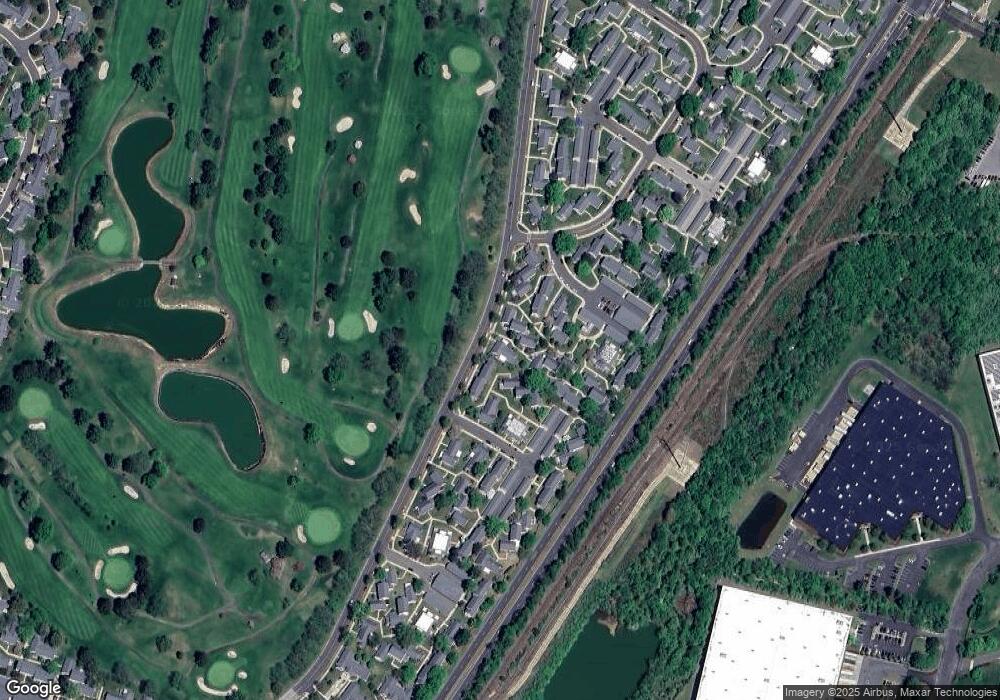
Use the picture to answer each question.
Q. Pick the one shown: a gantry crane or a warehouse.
warehouse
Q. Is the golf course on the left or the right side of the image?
left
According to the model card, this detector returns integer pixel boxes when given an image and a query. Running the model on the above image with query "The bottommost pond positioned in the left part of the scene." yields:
[160,372,264,468]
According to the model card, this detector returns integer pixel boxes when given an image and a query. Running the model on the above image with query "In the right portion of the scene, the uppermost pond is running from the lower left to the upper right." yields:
[737,492,788,549]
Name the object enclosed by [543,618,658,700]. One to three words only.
pond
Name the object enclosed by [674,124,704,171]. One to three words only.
house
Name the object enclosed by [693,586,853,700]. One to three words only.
warehouse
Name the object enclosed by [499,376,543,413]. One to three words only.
house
